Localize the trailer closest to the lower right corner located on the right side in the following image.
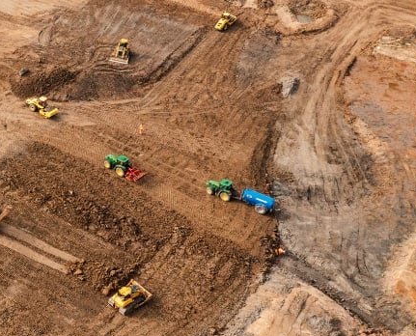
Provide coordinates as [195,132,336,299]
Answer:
[234,186,281,212]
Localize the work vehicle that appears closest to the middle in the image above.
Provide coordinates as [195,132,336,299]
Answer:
[202,179,236,203]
